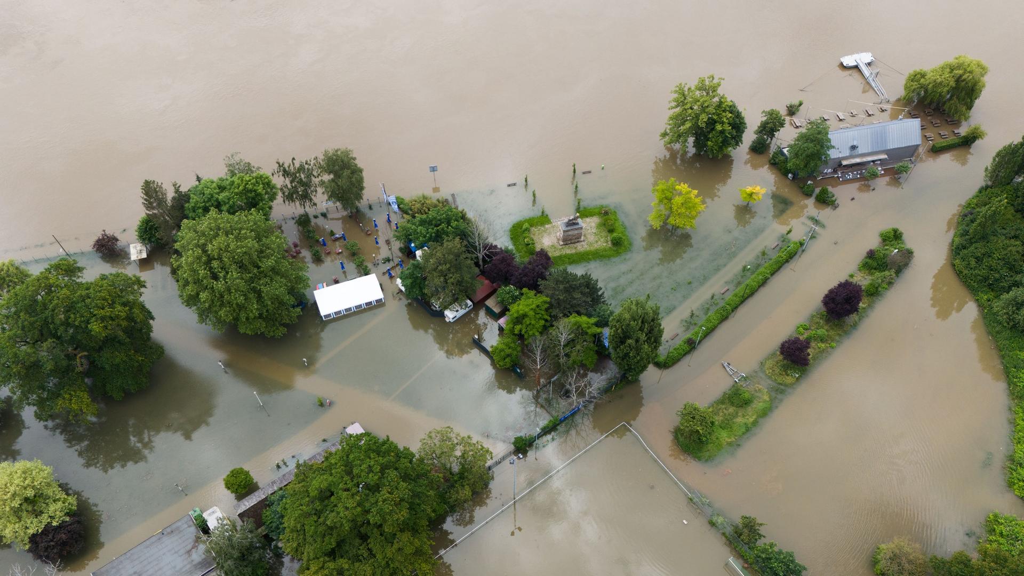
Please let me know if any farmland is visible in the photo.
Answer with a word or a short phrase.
No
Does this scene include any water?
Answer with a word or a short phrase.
Yes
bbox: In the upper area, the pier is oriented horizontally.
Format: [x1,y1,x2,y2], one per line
[840,50,874,67]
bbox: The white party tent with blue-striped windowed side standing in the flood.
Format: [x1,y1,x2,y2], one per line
[314,273,386,320]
